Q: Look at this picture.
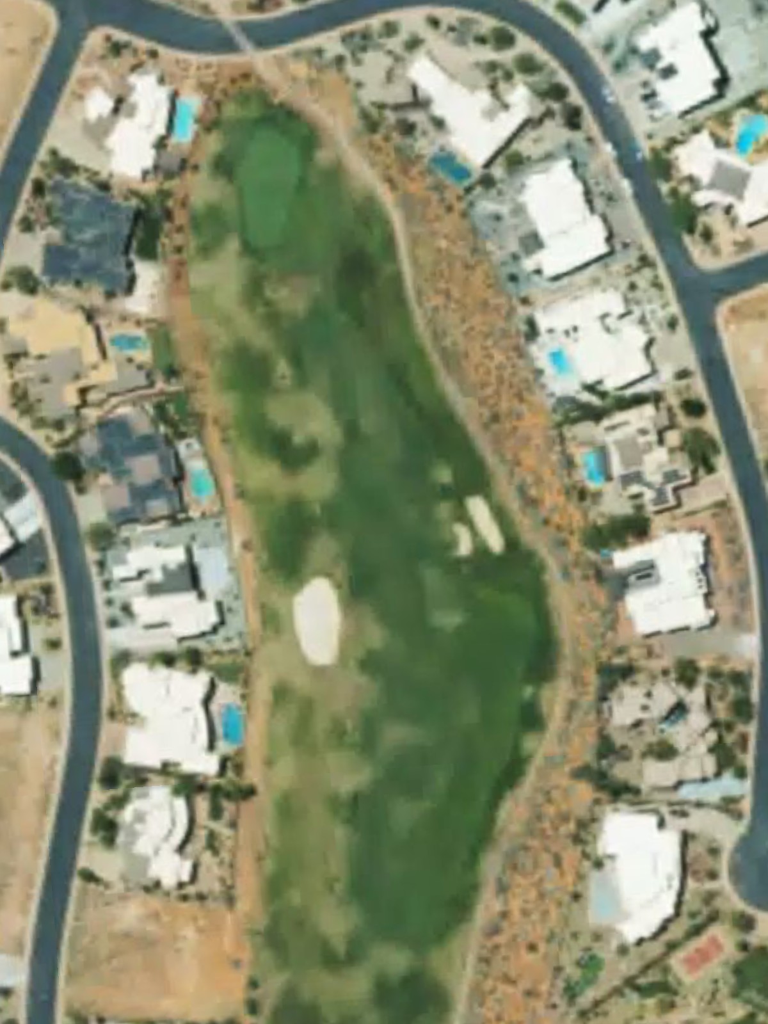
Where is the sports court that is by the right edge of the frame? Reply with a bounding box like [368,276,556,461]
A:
[672,927,731,979]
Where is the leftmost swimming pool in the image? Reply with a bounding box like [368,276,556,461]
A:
[111,332,147,352]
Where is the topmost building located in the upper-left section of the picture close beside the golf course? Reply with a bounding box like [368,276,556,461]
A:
[104,74,170,179]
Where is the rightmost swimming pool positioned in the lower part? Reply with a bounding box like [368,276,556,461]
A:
[665,701,688,727]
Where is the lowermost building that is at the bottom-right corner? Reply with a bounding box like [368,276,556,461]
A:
[598,813,684,945]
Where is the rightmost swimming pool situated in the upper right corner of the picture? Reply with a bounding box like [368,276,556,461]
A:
[736,112,768,158]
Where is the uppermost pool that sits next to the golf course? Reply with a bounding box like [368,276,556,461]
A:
[173,96,197,141]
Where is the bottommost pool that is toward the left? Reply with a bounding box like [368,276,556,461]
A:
[221,702,245,747]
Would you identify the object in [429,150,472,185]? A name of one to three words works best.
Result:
swimming pool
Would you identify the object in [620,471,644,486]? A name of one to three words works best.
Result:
solar panel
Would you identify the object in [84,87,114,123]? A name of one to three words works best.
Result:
building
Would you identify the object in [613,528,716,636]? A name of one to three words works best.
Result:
house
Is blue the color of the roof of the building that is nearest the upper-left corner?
No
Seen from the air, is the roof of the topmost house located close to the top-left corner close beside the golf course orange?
No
